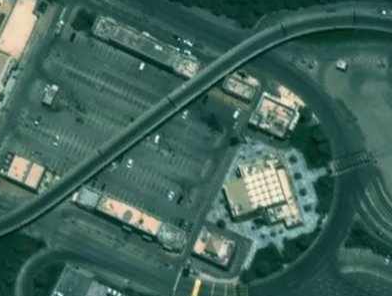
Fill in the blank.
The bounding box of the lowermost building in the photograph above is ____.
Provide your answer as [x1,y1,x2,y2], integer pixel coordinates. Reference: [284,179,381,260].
[192,227,237,266]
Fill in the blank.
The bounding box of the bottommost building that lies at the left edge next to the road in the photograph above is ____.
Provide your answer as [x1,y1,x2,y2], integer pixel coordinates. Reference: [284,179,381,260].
[0,153,49,191]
